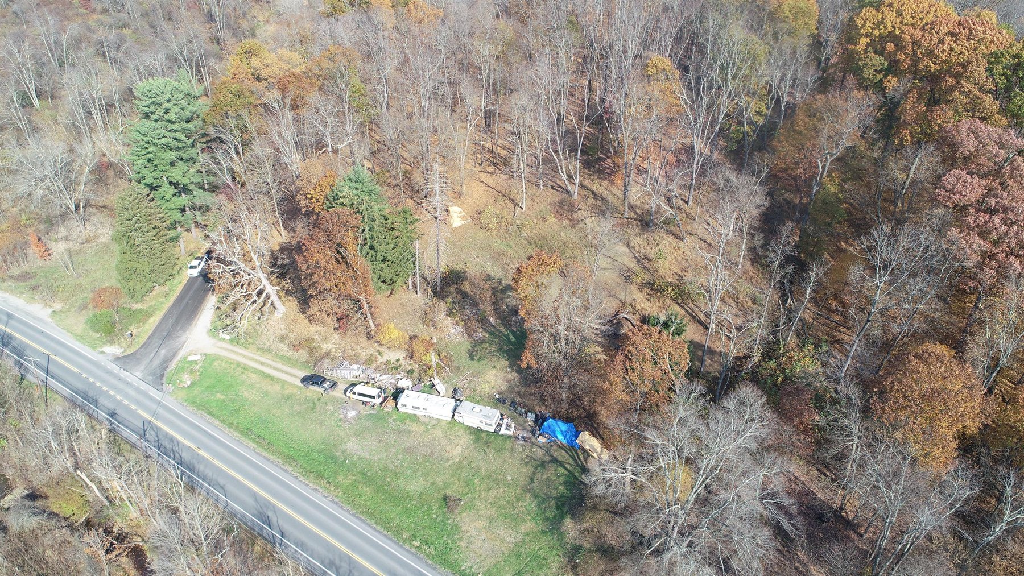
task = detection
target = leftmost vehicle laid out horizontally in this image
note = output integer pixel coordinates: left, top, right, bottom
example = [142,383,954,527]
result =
[301,376,337,393]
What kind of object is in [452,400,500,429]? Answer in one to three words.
camper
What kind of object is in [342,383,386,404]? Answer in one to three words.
vehicle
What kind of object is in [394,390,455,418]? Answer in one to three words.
trailer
